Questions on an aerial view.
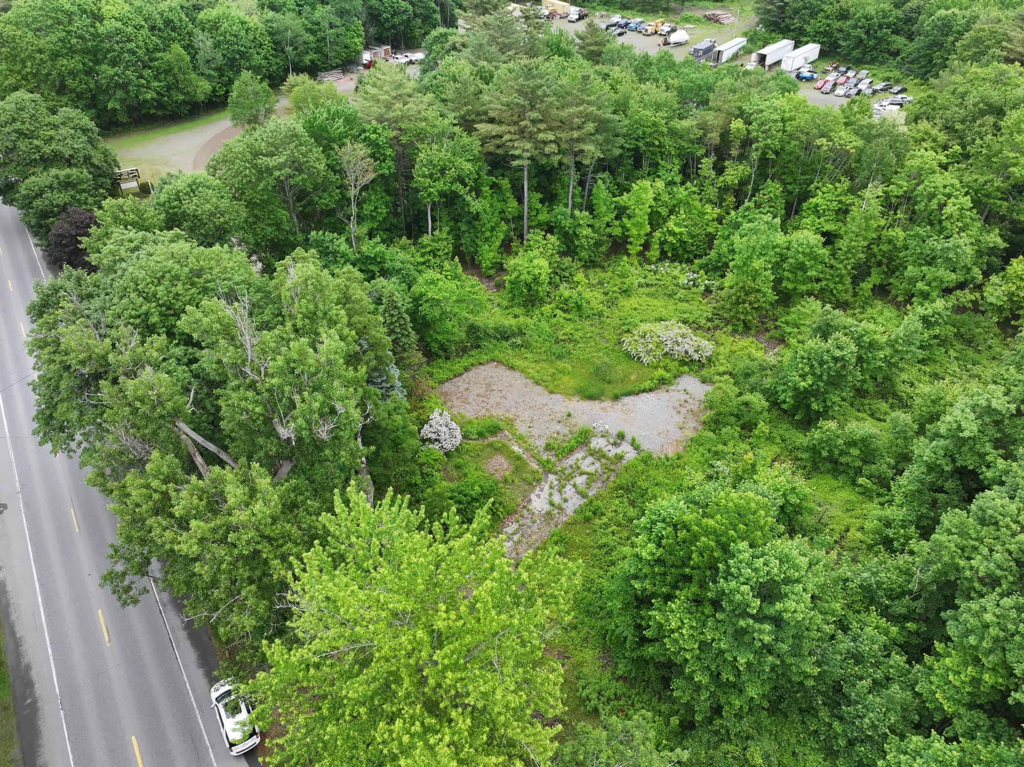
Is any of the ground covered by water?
No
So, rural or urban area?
rural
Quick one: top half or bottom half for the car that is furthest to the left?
bottom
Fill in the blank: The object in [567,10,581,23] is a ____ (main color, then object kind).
white vehicle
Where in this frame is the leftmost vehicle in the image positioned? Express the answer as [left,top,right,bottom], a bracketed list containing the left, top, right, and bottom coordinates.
[213,689,265,758]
